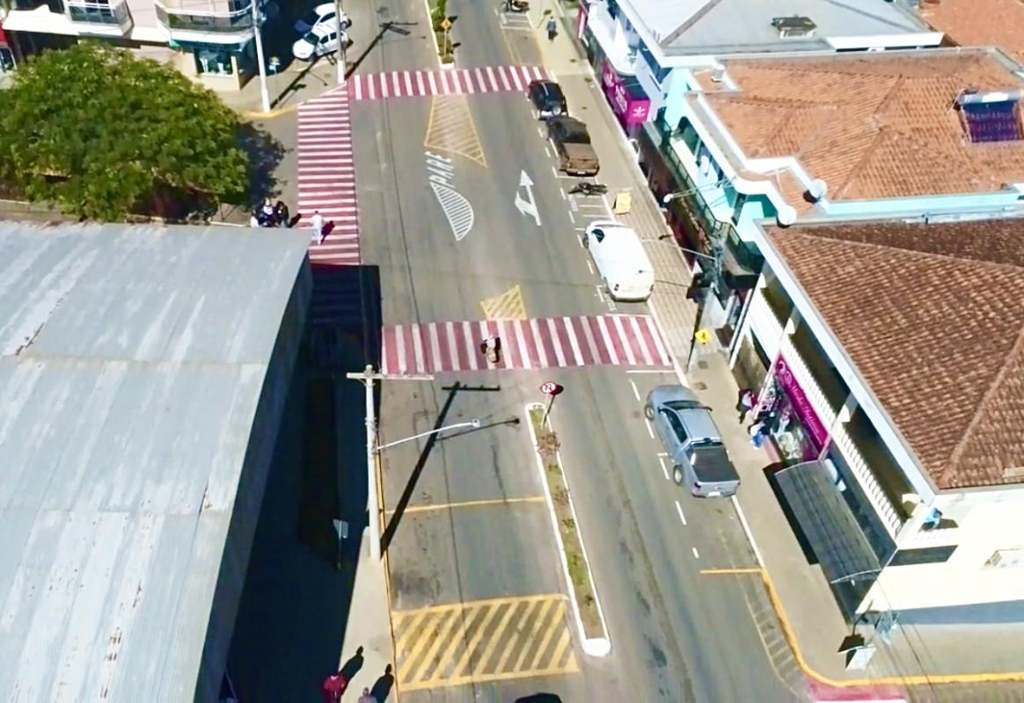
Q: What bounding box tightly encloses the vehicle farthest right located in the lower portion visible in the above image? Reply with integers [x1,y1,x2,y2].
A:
[644,373,745,501]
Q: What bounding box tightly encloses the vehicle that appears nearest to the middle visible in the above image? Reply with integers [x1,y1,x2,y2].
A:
[579,216,649,292]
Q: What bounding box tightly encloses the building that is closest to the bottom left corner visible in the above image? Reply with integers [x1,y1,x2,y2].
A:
[0,225,315,703]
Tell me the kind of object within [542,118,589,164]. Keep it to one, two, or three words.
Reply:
truck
